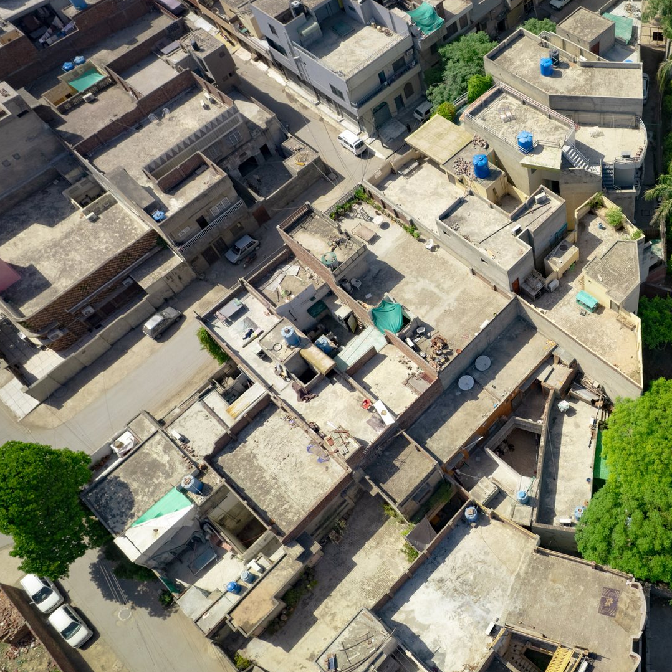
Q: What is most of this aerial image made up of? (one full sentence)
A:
Most of the picture is covered by buildings.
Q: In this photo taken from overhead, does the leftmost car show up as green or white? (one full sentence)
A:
In this view, the leftmost car is white.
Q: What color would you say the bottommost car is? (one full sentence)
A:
The bottommost car looks white in the image.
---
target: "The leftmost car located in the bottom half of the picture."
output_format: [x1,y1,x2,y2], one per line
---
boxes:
[19,573,65,617]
